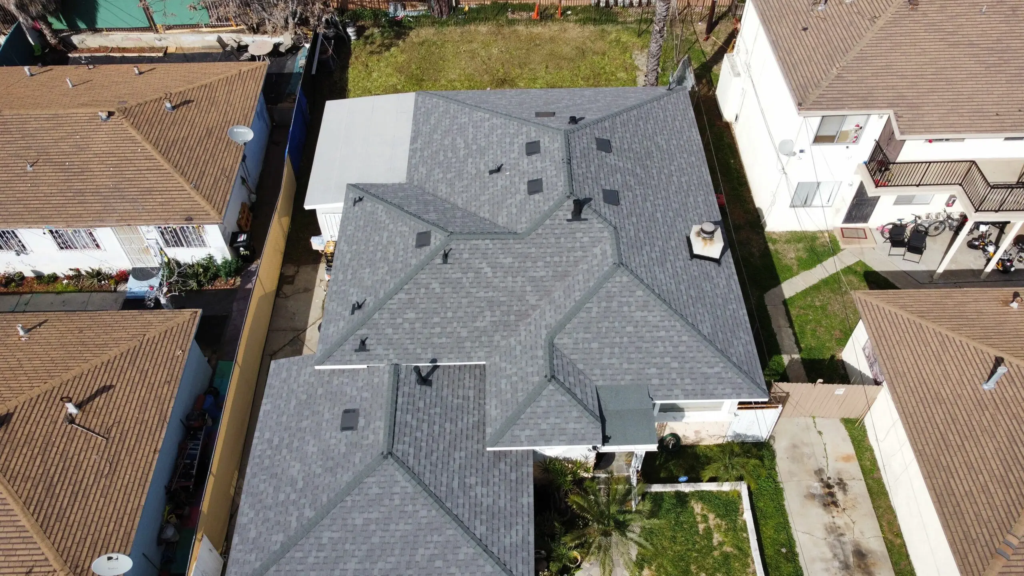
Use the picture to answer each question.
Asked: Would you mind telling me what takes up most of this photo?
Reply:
buildings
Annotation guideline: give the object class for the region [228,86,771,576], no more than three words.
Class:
house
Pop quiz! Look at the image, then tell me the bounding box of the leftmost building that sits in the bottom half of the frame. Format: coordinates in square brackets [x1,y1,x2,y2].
[0,308,214,576]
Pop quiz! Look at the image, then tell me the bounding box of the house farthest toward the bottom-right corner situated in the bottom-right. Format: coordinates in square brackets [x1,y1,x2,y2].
[841,287,1024,576]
